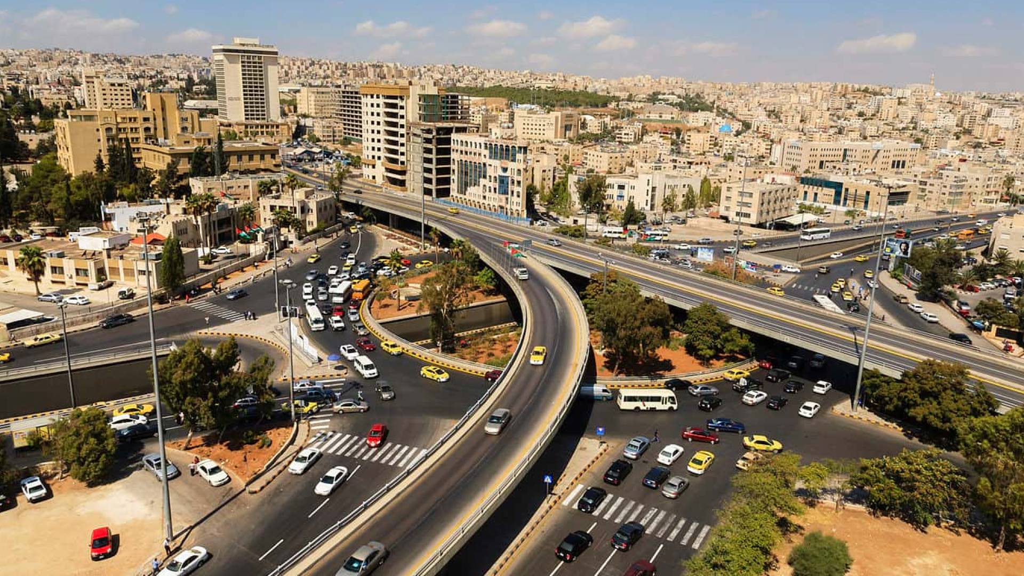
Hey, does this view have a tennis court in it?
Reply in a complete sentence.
No, no tennis court is visible in the view.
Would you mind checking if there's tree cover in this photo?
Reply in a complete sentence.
Yes, some tree cover is visible.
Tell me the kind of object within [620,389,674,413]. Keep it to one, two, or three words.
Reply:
vehicle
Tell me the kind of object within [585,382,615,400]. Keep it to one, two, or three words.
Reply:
vehicle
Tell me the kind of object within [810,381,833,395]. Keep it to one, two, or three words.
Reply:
car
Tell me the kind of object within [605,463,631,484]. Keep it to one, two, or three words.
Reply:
car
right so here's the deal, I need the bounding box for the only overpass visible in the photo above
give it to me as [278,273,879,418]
[293,181,1024,425]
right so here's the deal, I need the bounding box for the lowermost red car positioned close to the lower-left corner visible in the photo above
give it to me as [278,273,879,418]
[88,527,114,562]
